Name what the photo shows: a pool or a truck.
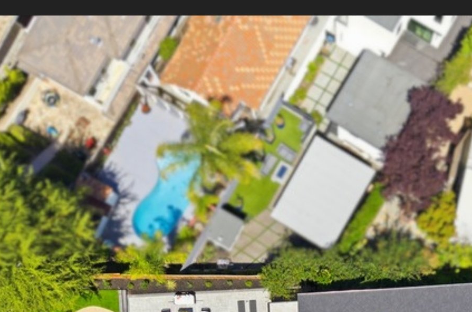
pool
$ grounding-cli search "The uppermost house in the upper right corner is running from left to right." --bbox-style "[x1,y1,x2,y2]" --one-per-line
[335,15,458,66]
